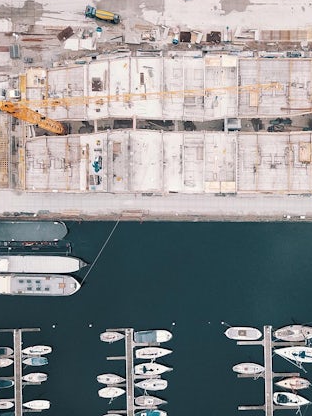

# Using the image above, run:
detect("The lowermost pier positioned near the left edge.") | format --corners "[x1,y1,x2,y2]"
[0,326,42,416]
